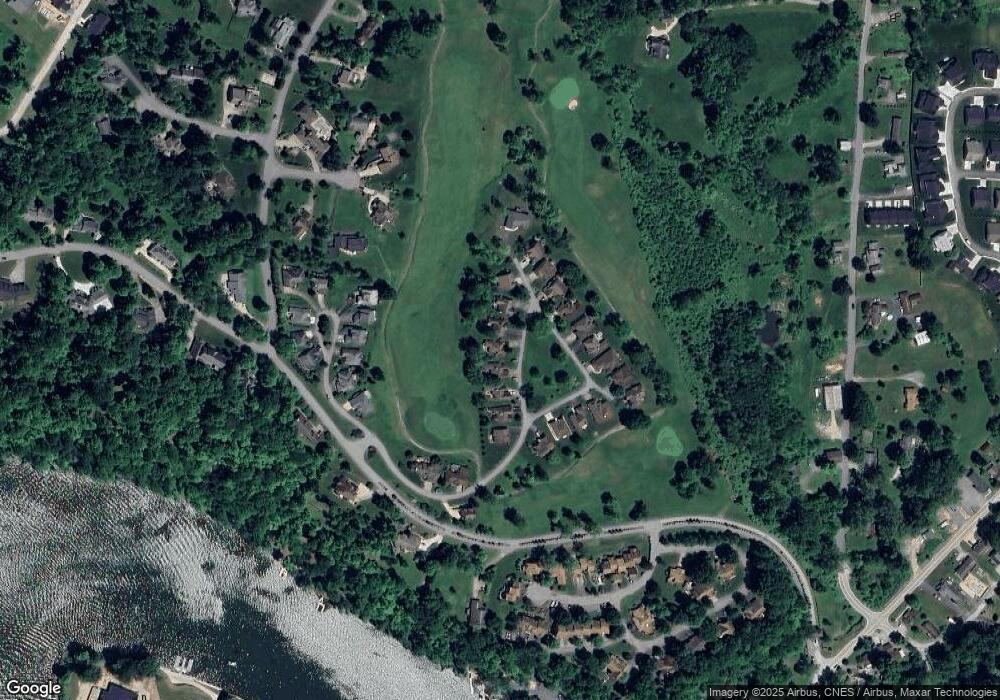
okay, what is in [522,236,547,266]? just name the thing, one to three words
house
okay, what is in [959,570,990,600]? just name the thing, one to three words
building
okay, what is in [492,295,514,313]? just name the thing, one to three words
house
